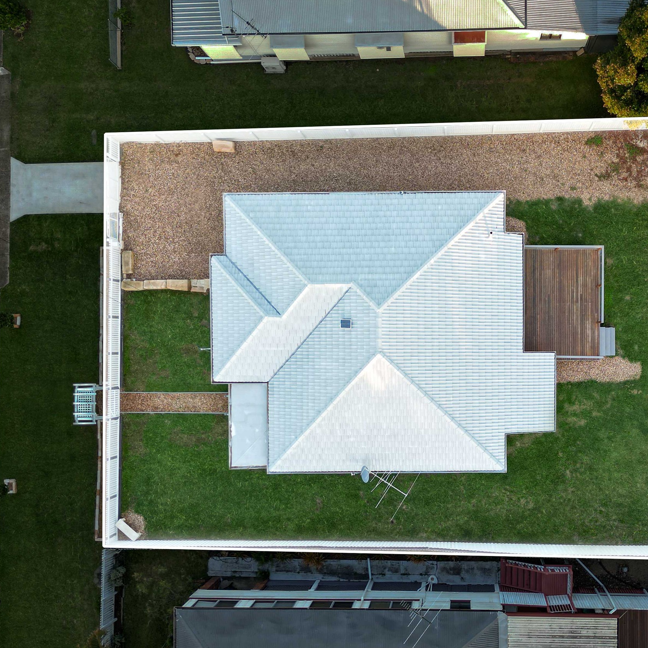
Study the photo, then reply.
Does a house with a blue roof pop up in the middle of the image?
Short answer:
No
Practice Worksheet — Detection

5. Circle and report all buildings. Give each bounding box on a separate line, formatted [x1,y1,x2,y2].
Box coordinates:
[208,190,558,475]
[173,558,507,648]
[171,0,648,64]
